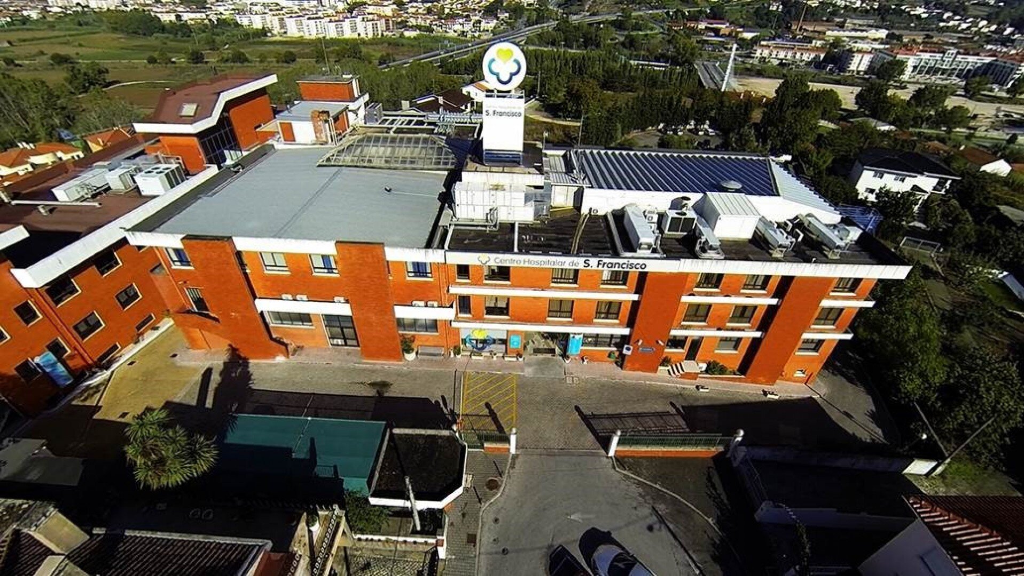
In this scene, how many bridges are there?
two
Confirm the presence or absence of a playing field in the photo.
Yes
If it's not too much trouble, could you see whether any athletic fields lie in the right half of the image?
Yes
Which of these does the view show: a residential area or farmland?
residential area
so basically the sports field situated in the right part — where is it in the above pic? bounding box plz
[895,250,952,300]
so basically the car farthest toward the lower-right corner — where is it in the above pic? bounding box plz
[592,541,654,576]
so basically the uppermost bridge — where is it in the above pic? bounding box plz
[371,9,683,61]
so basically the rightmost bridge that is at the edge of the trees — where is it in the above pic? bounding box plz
[703,43,762,92]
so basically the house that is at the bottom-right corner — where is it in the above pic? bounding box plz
[868,493,1024,576]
